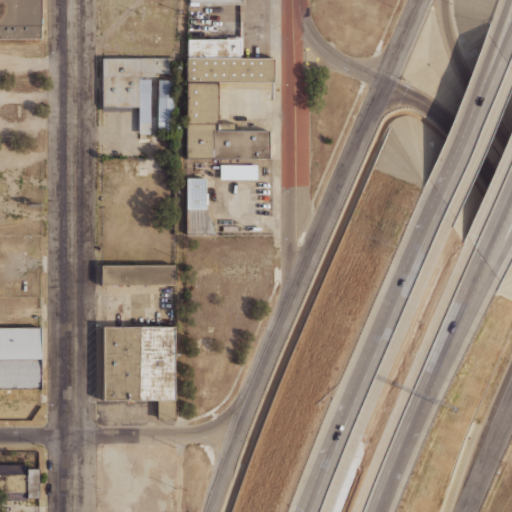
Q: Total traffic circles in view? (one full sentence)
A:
Not a single traffic circle can be seen.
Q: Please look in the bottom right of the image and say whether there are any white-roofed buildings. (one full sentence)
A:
No, I can find no white-roofed building in the bottom right of the image.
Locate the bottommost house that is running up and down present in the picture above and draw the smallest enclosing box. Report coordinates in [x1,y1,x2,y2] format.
[28,470,40,498]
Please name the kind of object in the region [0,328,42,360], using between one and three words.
building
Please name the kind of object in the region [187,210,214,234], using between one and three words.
shed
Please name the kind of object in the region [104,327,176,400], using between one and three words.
building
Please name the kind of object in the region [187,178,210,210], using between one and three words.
shed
